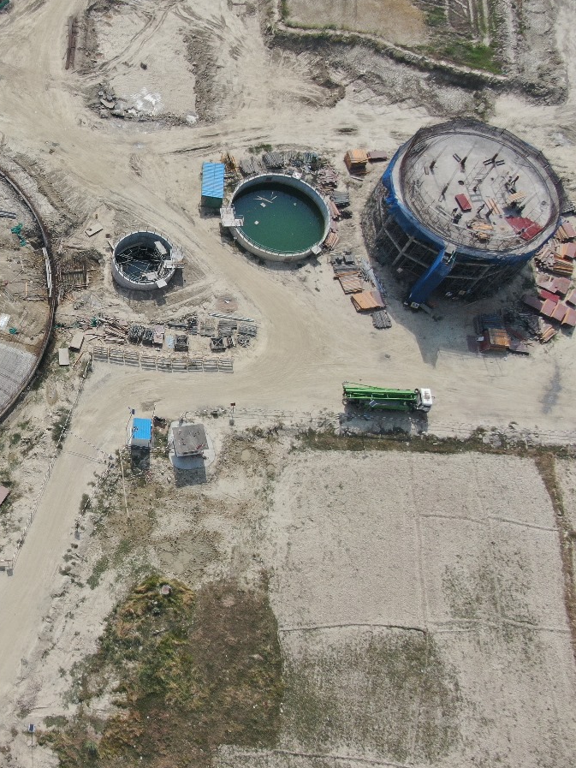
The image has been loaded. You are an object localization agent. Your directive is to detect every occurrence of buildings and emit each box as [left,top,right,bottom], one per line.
[199,161,225,210]
[169,420,214,468]
[130,418,152,447]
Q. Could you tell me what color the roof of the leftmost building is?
blue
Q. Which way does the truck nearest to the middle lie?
from side to side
